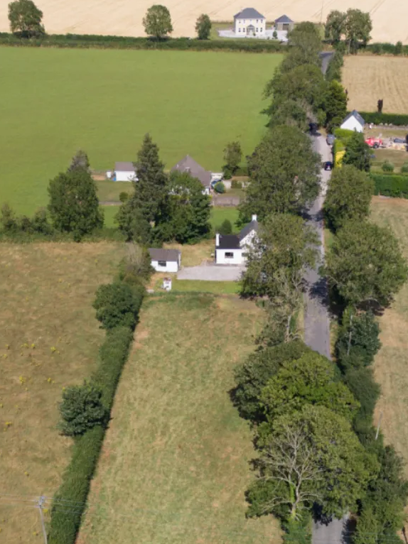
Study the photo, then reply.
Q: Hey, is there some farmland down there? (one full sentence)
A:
Yes, there's farmland in this view.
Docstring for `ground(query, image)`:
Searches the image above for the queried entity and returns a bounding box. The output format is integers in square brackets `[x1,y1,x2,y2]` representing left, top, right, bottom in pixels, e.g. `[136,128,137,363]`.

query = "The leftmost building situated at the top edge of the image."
[235,6,267,37]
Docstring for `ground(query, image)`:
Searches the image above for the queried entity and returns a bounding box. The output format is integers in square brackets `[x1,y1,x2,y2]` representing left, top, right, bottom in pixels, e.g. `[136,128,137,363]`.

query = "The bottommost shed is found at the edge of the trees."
[151,251,179,272]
